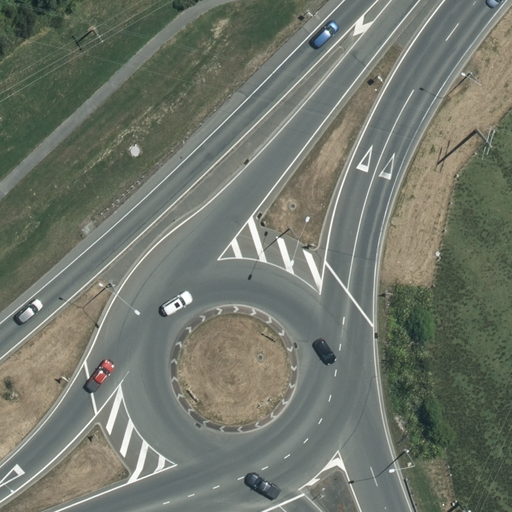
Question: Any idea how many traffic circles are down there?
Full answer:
I count just 1 traffic circle.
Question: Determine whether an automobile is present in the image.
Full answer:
Yes, the image includes an automobile.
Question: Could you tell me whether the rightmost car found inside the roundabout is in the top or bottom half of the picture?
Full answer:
The rightmost car found inside the roundabout is in the bottom half of the image.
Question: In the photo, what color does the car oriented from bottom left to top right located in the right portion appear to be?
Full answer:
In this view, the car oriented from bottom left to top right located in the right portion is blue.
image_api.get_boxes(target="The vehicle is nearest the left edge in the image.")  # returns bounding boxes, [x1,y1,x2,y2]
[13,298,43,326]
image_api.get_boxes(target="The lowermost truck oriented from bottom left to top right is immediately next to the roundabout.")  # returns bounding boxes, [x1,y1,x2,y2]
[84,358,114,393]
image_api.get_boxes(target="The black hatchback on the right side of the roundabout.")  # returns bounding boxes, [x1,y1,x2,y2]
[313,336,336,366]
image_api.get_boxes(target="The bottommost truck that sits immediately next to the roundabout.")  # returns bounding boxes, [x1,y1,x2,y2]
[244,472,281,501]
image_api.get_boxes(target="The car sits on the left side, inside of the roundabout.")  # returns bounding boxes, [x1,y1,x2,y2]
[158,290,193,318]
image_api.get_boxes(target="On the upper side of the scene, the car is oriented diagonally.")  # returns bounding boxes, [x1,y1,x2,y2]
[310,20,338,50]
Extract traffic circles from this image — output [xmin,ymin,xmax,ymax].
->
[124,258,344,478]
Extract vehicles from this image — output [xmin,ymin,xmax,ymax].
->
[310,20,338,50]
[486,0,503,8]
[84,358,114,393]
[313,336,336,366]
[13,298,43,326]
[244,472,281,501]
[158,290,193,318]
